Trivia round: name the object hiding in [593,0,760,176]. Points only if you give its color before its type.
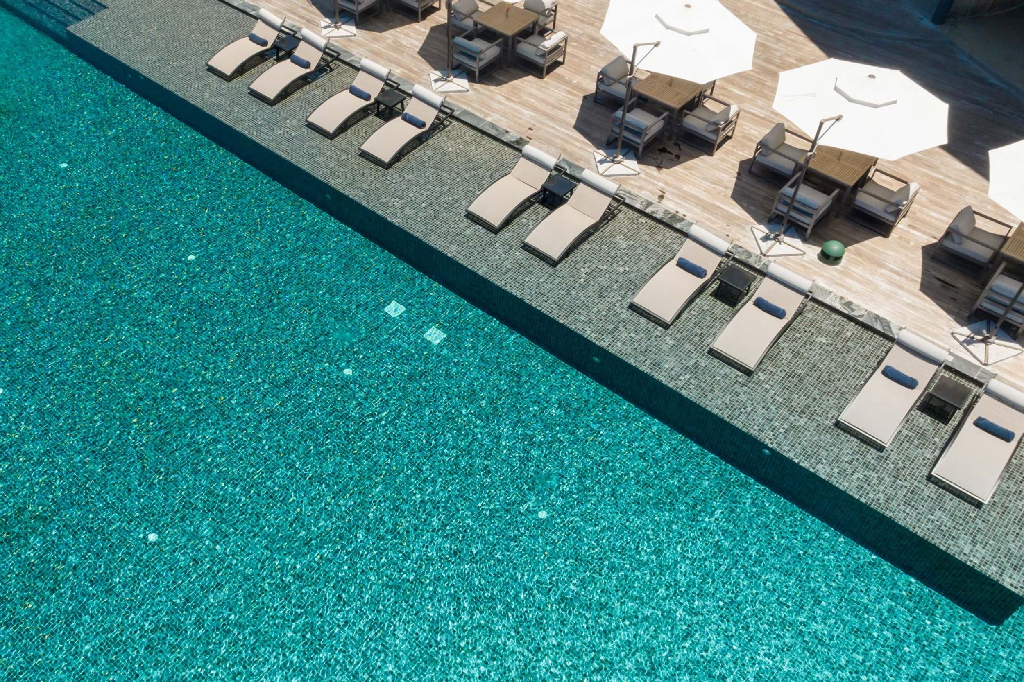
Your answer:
white umbrella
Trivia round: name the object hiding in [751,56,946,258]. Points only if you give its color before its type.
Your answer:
white umbrella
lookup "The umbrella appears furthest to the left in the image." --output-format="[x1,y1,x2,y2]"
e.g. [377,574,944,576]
[322,0,356,37]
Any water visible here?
Yes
